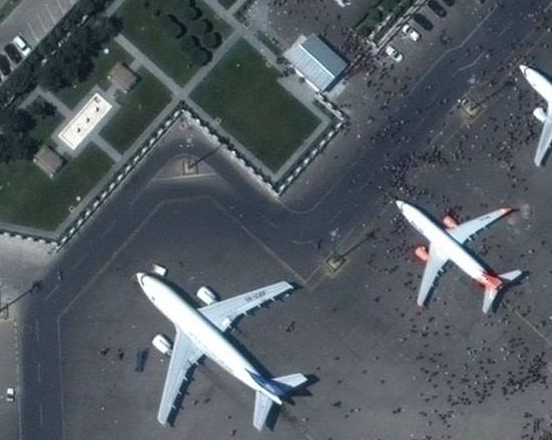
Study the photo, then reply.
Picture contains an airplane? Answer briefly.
Yes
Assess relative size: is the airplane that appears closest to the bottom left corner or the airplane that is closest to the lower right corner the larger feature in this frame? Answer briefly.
the airplane that appears closest to the bottom left corner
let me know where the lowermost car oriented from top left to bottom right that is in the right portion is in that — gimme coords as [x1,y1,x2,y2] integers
[385,46,404,63]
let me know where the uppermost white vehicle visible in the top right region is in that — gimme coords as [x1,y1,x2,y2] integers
[401,24,421,42]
